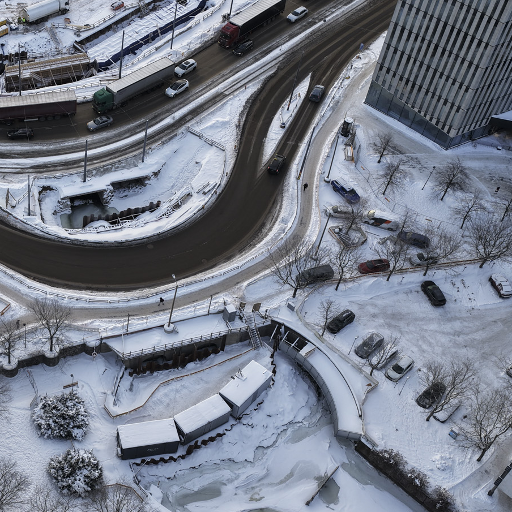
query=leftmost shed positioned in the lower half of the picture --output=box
[113,418,180,460]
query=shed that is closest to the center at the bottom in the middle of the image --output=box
[219,359,273,419]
